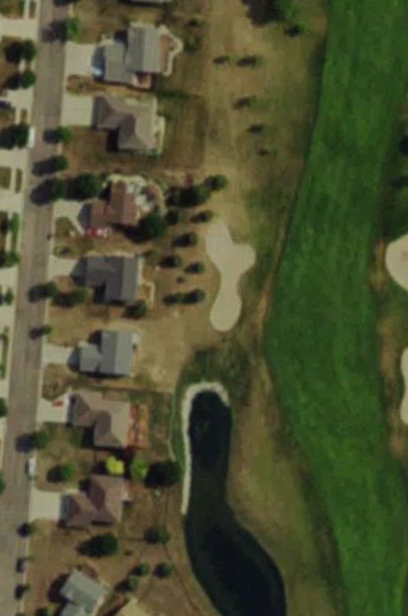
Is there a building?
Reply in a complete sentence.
Yes, the frame does contain a building.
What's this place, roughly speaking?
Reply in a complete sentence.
This looks like a golf course.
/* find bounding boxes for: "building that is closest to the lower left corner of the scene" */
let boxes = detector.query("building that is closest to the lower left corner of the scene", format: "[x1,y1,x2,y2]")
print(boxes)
[51,568,109,616]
